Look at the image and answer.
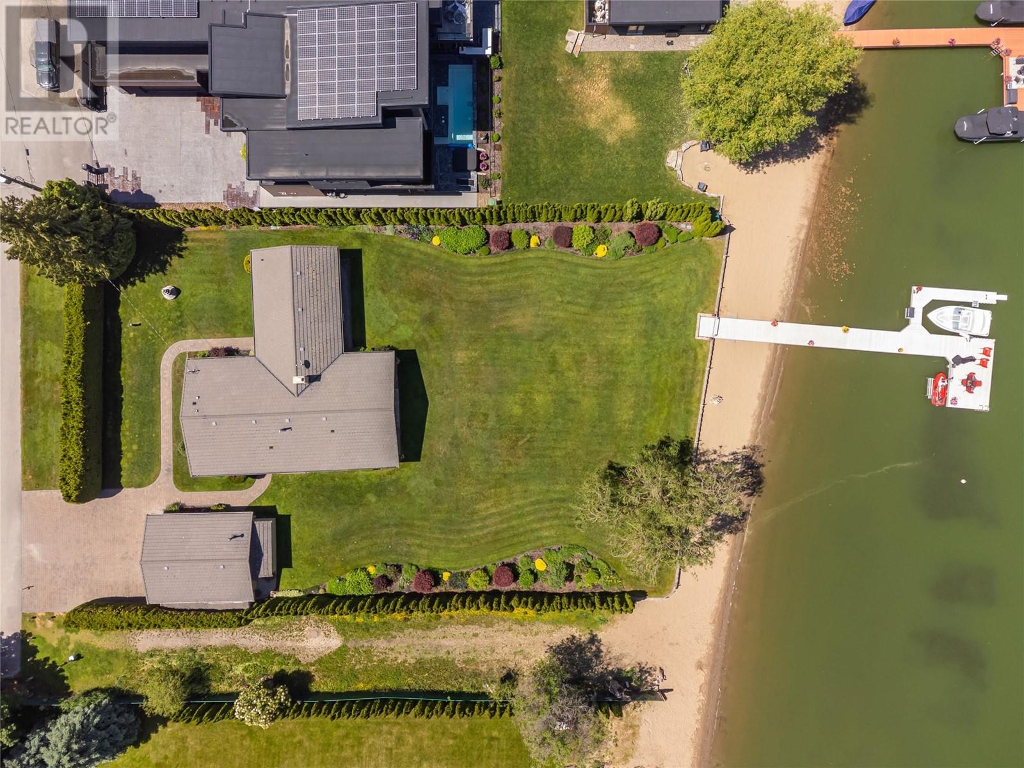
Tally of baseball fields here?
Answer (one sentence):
There are no baseball fields in this view.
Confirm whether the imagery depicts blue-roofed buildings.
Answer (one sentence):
No, there isn't any blue-roofed building down there.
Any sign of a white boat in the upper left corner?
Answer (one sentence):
No, the scene shows no white boat in the upper left corner.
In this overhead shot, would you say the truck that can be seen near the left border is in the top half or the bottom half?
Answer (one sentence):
Seen from above, the truck that can be seen near the left border lies in the top half of the view.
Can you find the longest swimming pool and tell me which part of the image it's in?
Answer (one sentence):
The longest swimming pool is located in the top region of the scene.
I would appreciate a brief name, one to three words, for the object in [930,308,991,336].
boat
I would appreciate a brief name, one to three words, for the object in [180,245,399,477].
house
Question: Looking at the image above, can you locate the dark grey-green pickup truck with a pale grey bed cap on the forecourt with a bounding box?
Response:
[30,14,64,87]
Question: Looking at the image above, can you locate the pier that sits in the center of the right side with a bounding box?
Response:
[695,286,1007,413]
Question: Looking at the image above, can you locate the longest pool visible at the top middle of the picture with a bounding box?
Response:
[434,62,475,144]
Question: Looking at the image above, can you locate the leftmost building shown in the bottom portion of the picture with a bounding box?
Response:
[140,510,260,606]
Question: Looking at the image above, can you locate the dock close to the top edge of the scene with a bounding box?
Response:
[842,27,1024,110]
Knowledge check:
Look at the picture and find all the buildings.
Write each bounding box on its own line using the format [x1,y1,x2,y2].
[180,245,399,477]
[67,0,473,196]
[583,0,721,40]
[140,510,260,606]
